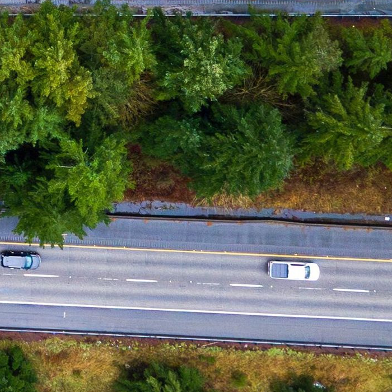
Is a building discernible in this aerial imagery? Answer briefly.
No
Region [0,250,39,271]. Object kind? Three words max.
car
